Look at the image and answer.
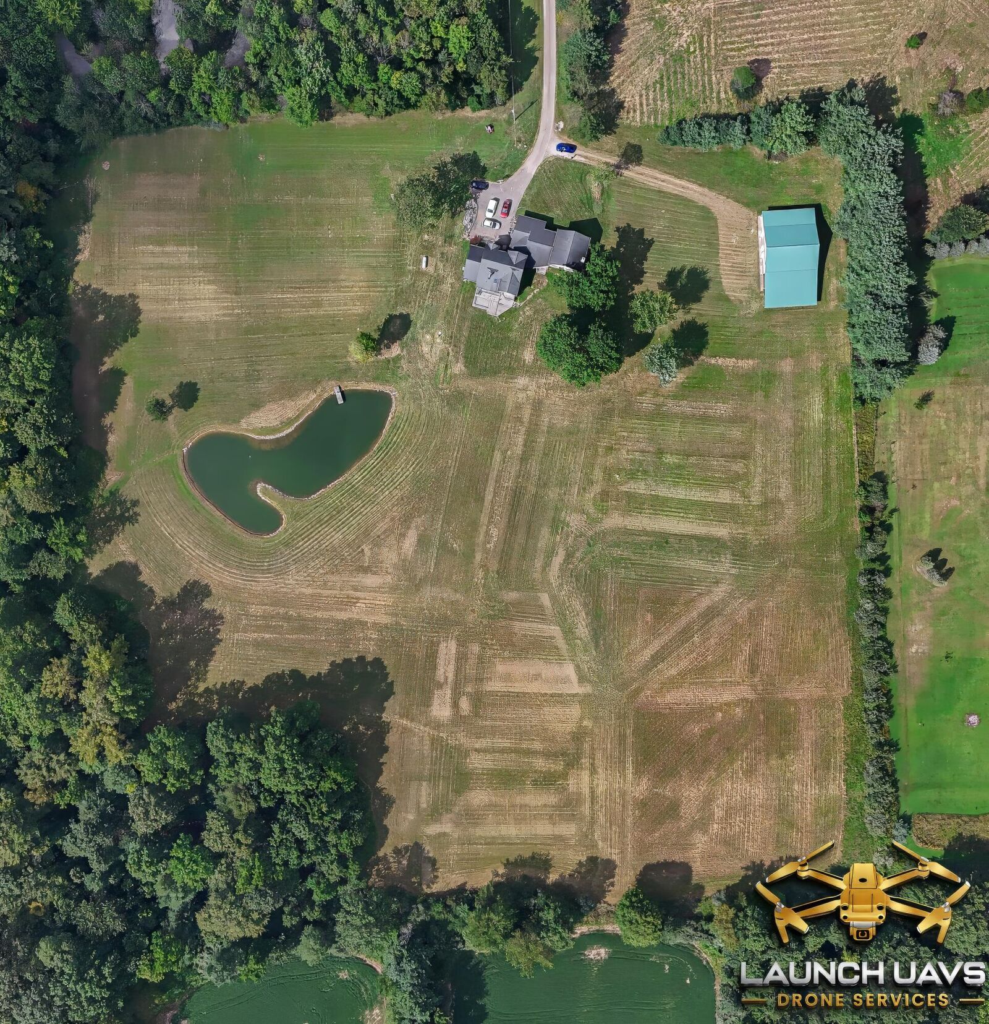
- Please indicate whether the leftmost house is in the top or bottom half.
top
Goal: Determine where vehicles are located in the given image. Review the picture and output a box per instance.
[471,182,489,191]
[557,144,576,154]
[501,199,511,219]
[486,198,498,219]
[482,219,501,230]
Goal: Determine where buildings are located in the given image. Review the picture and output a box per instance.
[460,215,591,319]
[755,208,821,312]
